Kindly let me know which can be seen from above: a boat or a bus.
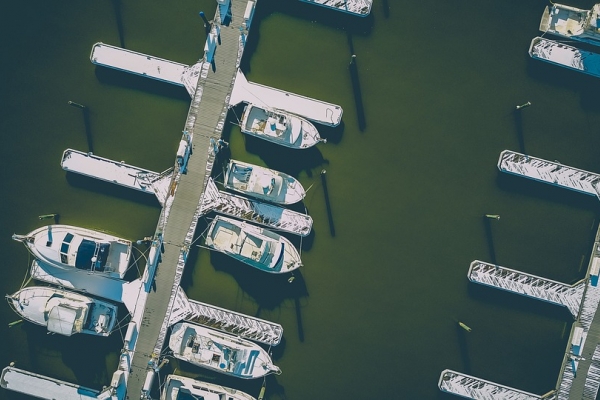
boat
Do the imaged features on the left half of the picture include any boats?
Yes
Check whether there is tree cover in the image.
No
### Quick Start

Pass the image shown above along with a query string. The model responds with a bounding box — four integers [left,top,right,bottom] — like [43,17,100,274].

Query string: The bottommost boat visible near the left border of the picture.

[2,285,120,337]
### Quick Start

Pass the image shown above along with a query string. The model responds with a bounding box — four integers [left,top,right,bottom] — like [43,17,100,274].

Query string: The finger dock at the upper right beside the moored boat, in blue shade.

[526,36,600,78]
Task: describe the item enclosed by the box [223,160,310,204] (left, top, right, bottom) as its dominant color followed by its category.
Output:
white boat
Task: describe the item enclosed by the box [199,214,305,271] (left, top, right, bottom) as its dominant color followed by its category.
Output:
white boat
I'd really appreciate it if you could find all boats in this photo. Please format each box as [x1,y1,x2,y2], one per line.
[163,369,248,400]
[2,285,120,337]
[199,214,305,271]
[240,104,327,150]
[223,160,310,204]
[170,324,284,378]
[11,227,135,282]
[540,0,600,49]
